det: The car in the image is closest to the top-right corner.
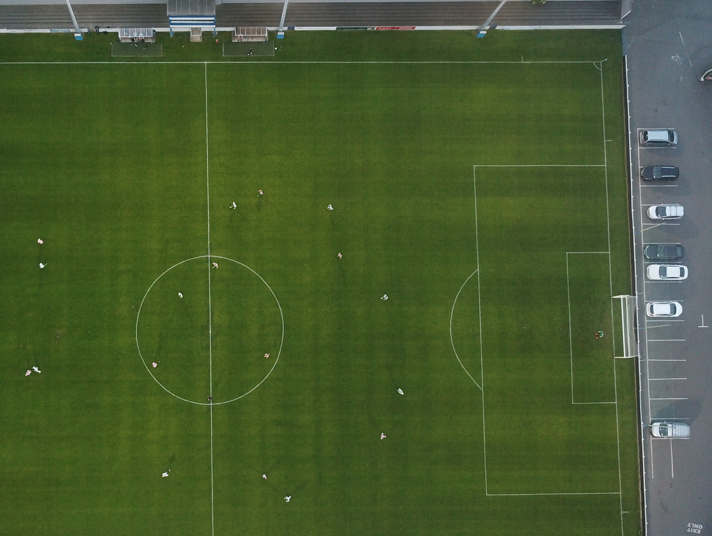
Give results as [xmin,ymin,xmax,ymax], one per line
[640,129,676,147]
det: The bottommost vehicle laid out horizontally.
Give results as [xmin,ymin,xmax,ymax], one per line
[650,421,691,439]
